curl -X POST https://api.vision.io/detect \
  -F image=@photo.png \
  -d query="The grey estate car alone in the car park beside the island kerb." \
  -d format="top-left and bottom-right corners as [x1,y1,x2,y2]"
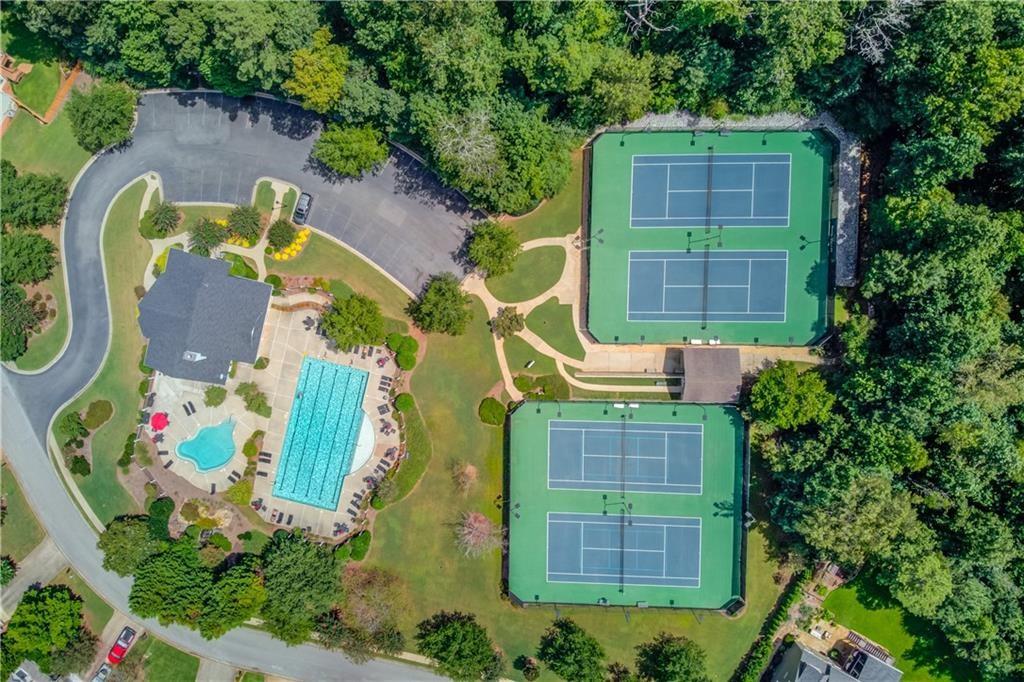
[291,191,311,224]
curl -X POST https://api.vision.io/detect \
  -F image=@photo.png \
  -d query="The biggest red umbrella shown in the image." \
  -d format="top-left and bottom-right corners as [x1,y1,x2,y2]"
[144,417,162,434]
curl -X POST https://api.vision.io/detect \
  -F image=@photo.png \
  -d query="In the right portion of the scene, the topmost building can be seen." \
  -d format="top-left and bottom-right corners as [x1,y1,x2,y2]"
[676,348,742,403]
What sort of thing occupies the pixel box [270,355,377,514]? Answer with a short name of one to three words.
swimming pool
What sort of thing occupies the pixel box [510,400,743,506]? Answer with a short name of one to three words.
tennis court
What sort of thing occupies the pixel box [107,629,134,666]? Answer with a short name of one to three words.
truck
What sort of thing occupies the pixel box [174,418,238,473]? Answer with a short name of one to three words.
swimming pool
